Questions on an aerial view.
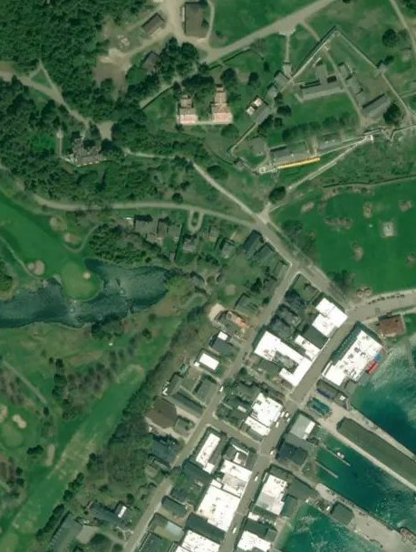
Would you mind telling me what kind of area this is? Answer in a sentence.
The picture captures a residential area.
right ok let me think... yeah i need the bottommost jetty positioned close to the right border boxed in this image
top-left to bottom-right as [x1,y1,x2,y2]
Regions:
[311,483,415,552]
